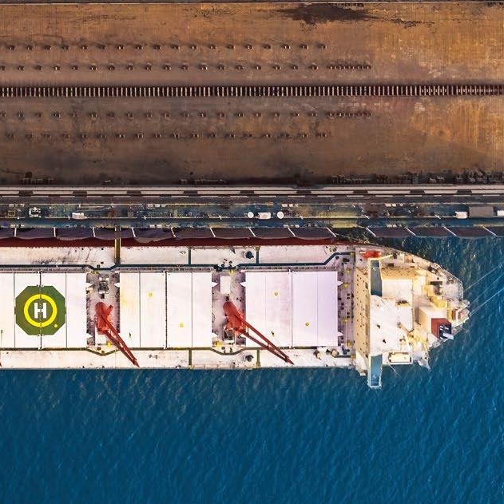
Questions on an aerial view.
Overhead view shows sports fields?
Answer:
No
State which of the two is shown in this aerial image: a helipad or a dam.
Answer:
helipad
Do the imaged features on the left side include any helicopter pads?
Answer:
Yes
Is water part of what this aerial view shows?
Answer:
Yes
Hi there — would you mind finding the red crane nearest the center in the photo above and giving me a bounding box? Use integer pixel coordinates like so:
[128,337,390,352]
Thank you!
[220,299,295,365]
